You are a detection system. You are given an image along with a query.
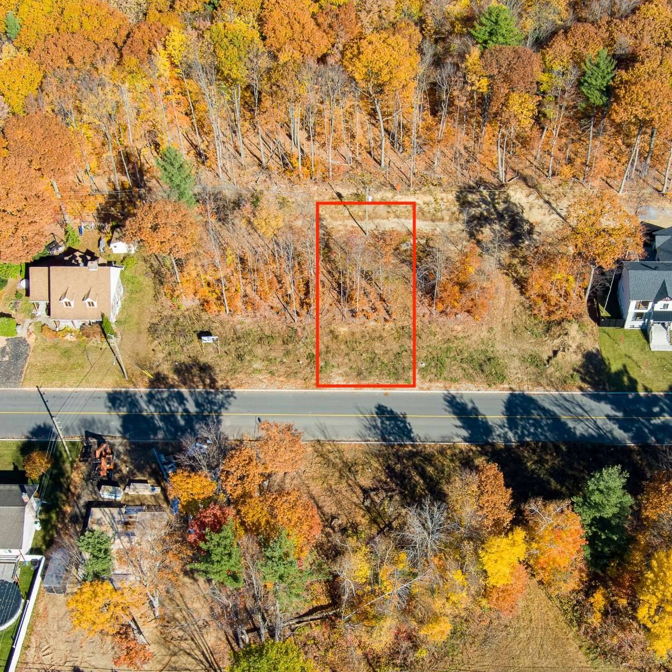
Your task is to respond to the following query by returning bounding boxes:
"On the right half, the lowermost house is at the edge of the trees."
[616,261,672,352]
